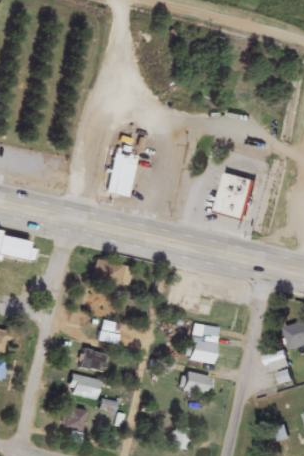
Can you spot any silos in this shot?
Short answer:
No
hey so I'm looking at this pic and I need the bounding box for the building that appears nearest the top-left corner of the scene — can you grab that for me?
[106,146,140,196]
